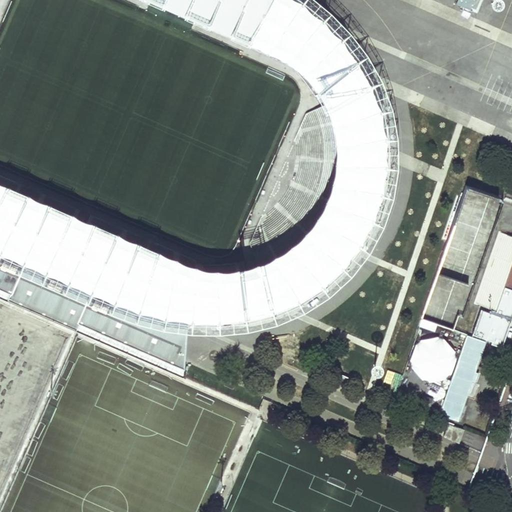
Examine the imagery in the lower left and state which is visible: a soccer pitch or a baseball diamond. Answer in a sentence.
You can see a soccer pitch in the lower left.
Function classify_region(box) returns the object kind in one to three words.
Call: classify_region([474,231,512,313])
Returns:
building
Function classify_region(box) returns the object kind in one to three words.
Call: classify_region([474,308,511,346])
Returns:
building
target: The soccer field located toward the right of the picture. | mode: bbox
[222,421,434,512]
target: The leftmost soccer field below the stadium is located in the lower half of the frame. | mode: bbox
[2,343,248,512]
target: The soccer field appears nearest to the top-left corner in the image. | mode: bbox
[0,0,294,250]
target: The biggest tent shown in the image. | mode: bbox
[410,336,458,383]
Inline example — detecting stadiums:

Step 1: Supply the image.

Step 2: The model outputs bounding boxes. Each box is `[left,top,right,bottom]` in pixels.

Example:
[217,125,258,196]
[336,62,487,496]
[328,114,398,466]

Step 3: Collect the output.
[0,0,400,335]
